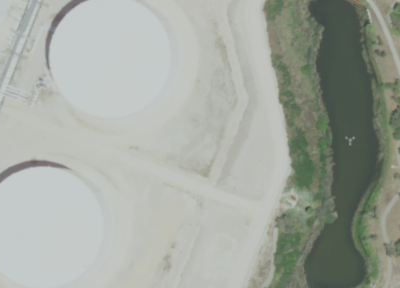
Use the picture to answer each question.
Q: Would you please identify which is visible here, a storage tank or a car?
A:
storage tank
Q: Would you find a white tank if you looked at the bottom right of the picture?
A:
No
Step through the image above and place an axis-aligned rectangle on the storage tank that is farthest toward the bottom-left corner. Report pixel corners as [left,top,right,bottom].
[0,166,114,288]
